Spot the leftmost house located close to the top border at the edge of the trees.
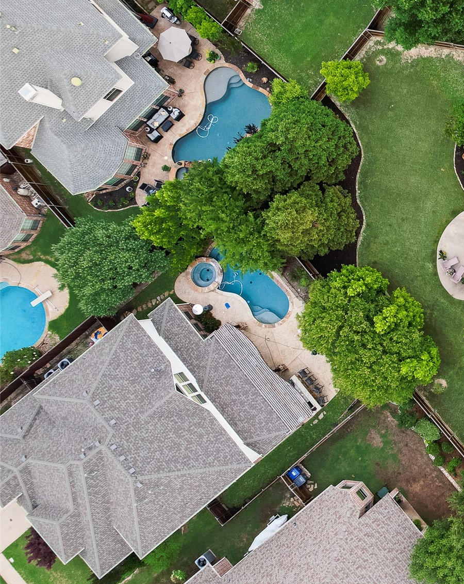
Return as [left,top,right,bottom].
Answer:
[0,0,177,195]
